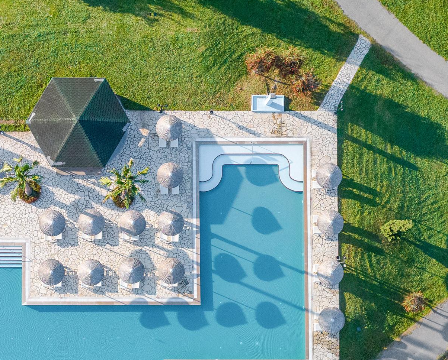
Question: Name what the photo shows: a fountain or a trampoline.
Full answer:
There is a fountain in the scene.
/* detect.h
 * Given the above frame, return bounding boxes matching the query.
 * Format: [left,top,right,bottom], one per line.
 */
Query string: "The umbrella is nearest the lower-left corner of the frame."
[38,258,65,285]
